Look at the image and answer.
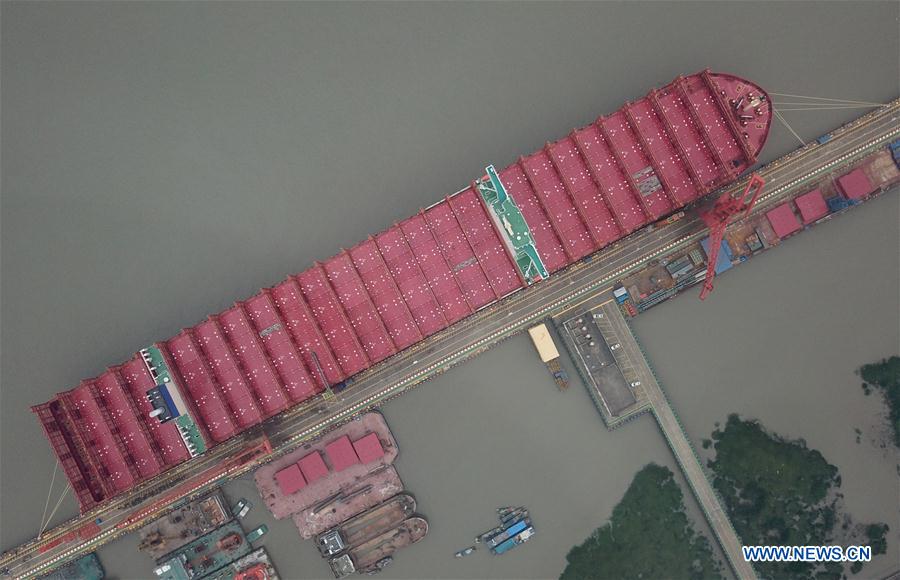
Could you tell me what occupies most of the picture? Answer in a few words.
water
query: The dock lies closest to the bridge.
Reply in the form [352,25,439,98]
[551,287,670,431]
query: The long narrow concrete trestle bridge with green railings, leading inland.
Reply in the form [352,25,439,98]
[650,398,762,580]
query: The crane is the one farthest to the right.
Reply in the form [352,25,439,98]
[691,174,766,301]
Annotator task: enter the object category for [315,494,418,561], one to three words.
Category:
ship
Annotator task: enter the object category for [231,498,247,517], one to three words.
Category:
boat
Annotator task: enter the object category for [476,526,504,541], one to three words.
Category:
boat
